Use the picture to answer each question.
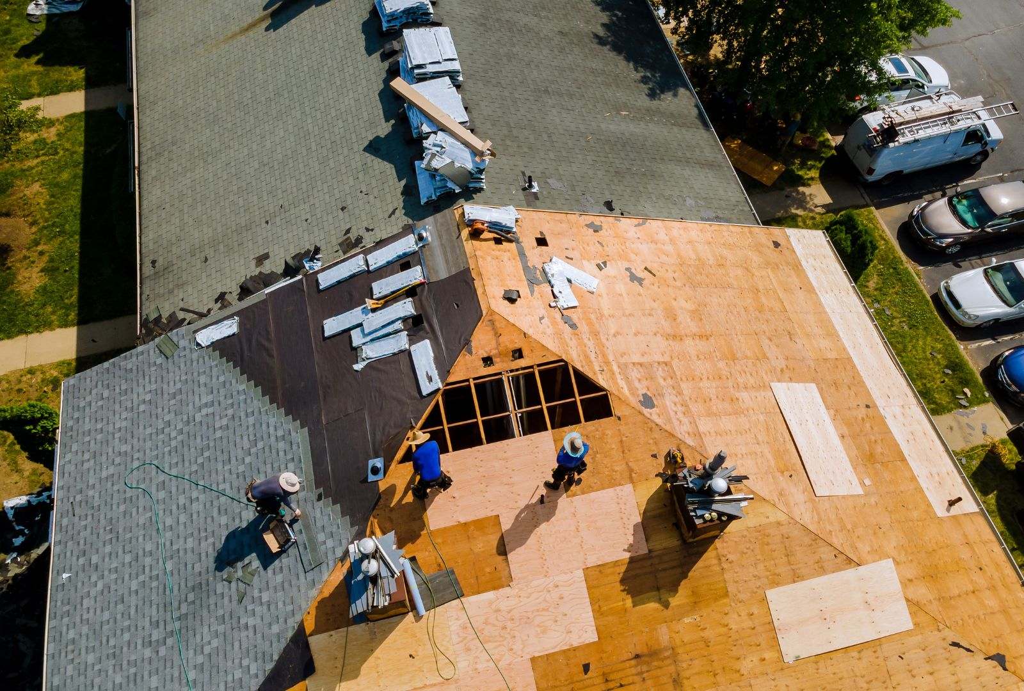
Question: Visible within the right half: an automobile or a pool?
automobile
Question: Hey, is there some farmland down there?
No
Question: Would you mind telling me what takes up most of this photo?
buildings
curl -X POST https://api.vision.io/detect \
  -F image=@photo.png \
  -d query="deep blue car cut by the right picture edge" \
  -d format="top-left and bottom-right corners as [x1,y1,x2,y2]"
[997,346,1024,408]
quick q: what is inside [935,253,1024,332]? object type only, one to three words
car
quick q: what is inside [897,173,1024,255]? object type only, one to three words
car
